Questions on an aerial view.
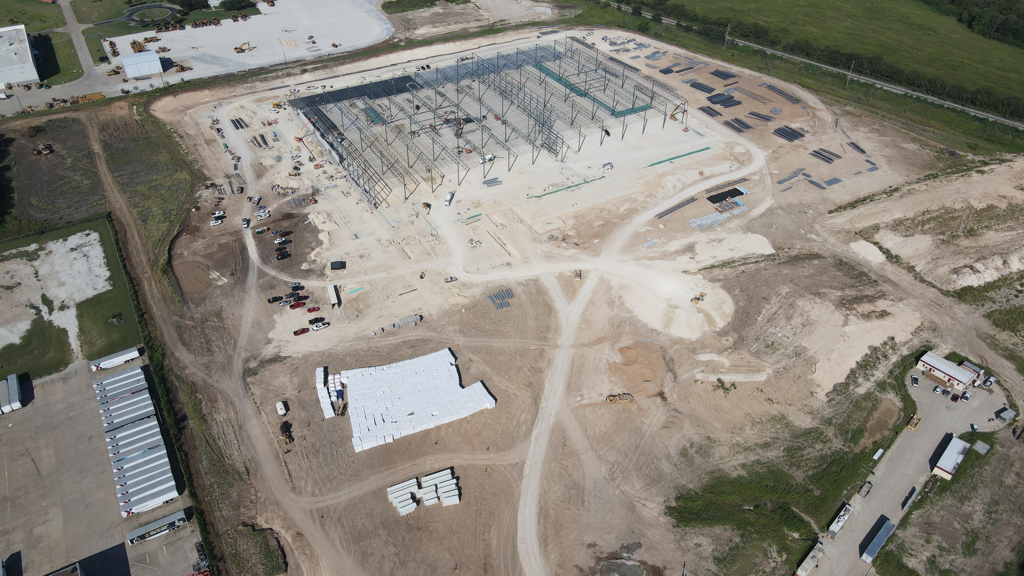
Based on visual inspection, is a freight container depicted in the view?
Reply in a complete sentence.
Yes, you can see a freight container in this photo.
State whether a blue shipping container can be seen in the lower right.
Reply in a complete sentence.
No, in the lower right there is no blue shipping container.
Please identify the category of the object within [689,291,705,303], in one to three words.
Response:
vehicle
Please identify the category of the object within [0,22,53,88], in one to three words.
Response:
building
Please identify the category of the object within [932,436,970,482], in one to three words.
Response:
trailer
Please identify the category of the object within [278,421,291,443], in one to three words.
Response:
vehicle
